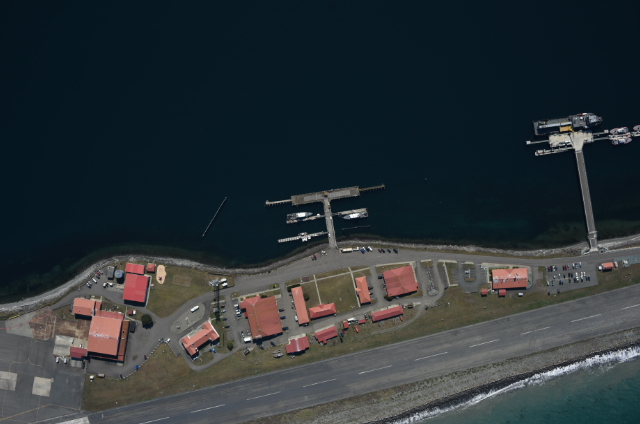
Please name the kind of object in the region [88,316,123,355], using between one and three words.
hangar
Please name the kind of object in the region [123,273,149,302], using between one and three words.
building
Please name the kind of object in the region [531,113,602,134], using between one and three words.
ship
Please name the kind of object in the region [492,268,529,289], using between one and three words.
building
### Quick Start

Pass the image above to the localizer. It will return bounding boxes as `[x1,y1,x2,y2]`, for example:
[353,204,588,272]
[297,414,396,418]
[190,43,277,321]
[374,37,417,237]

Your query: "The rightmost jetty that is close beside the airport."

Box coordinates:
[526,129,610,251]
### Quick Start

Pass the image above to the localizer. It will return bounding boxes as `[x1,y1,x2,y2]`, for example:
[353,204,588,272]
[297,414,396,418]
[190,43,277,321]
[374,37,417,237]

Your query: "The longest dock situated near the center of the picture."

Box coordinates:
[265,184,386,250]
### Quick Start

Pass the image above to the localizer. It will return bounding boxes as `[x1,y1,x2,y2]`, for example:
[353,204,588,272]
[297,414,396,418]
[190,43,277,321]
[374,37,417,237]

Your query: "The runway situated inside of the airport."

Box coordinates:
[41,284,640,424]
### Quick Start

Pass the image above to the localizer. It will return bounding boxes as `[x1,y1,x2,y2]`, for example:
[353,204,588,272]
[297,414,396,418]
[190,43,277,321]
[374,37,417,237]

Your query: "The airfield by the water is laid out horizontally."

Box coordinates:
[0,284,640,424]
